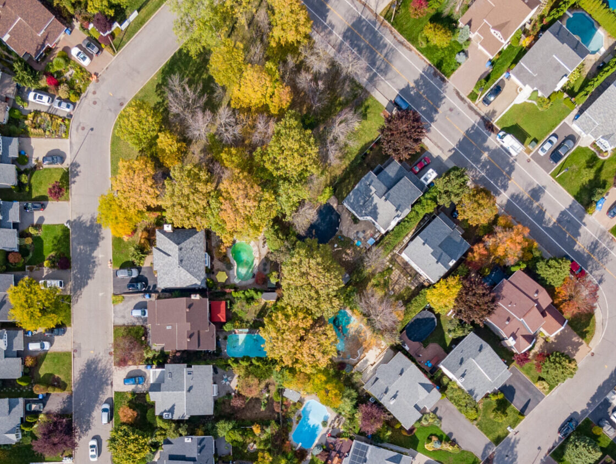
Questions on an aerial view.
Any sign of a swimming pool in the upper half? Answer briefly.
Yes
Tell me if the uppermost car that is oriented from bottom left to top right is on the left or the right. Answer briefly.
right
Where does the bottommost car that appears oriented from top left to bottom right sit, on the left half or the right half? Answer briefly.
right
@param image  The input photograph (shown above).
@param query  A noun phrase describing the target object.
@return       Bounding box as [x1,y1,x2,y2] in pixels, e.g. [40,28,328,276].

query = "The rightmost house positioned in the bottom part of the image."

[483,269,566,352]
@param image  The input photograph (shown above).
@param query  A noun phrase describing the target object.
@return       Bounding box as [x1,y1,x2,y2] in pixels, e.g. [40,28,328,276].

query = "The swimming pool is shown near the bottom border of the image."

[291,397,331,451]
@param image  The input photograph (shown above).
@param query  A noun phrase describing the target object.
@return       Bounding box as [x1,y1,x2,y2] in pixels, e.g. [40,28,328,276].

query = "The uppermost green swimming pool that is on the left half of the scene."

[230,240,256,282]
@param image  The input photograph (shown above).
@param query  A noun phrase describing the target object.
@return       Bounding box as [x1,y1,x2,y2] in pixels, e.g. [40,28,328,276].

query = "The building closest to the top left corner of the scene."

[0,0,70,67]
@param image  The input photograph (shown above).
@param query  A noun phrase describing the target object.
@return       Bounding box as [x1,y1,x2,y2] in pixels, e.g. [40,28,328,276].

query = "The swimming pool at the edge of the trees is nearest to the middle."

[306,202,343,246]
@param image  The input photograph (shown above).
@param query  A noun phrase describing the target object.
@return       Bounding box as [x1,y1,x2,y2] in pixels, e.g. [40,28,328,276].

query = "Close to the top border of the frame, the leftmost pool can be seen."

[565,10,605,56]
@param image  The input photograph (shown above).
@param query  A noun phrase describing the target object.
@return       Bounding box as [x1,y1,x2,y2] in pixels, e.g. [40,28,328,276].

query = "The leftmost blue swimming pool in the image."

[225,333,269,359]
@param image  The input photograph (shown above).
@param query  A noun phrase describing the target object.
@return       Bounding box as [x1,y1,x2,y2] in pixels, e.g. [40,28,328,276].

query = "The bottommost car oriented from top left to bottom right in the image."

[596,417,616,438]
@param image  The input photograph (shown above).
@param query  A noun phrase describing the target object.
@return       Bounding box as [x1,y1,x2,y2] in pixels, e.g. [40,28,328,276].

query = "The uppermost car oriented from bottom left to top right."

[482,85,501,106]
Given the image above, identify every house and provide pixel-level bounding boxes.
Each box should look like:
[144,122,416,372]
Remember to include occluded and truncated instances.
[0,133,24,187]
[346,439,413,464]
[0,398,28,444]
[452,0,543,67]
[0,196,24,250]
[0,70,21,130]
[0,329,29,380]
[565,76,616,159]
[148,292,217,350]
[399,208,469,285]
[436,332,512,402]
[149,366,213,421]
[505,21,589,109]
[0,273,26,321]
[0,0,70,67]
[343,159,424,237]
[152,224,207,289]
[157,435,216,464]
[483,269,566,352]
[363,351,442,430]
